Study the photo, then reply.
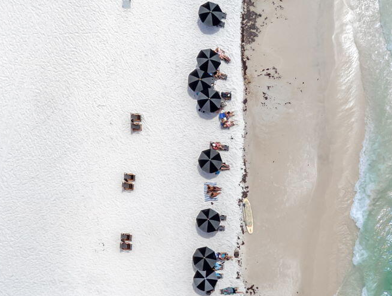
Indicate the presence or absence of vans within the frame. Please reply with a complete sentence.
No, no van is visible in the view.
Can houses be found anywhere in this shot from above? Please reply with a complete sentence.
No, no house can be seen from above.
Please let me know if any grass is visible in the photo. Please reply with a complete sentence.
No, grass can't be seen anywhere here.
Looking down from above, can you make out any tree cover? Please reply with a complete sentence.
No, no tree cover is visible.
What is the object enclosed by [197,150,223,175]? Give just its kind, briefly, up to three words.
umbrella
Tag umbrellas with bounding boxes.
[198,90,223,115]
[197,150,223,175]
[198,4,223,30]
[196,210,221,235]
[192,247,218,272]
[196,49,221,74]
[189,71,213,96]
[194,271,219,294]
